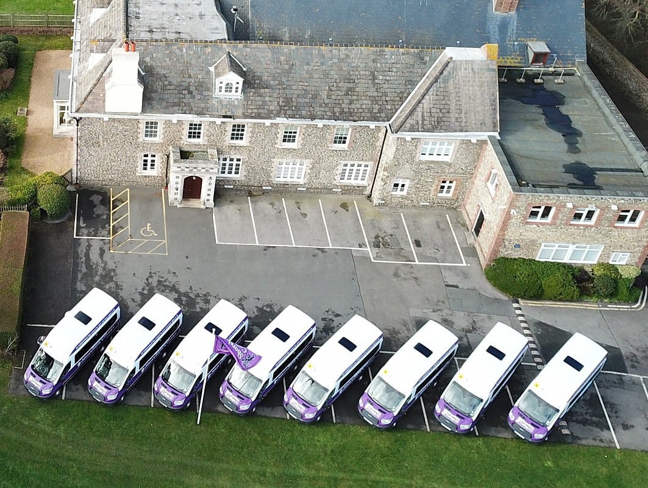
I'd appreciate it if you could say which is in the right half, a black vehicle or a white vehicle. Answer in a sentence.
Visible in the right half is a white vehicle.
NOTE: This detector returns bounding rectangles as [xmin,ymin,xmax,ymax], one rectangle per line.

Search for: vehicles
[500,333,609,449]
[428,323,529,442]
[149,300,250,418]
[279,314,385,430]
[353,321,461,436]
[214,305,317,421]
[85,293,183,412]
[23,287,123,405]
